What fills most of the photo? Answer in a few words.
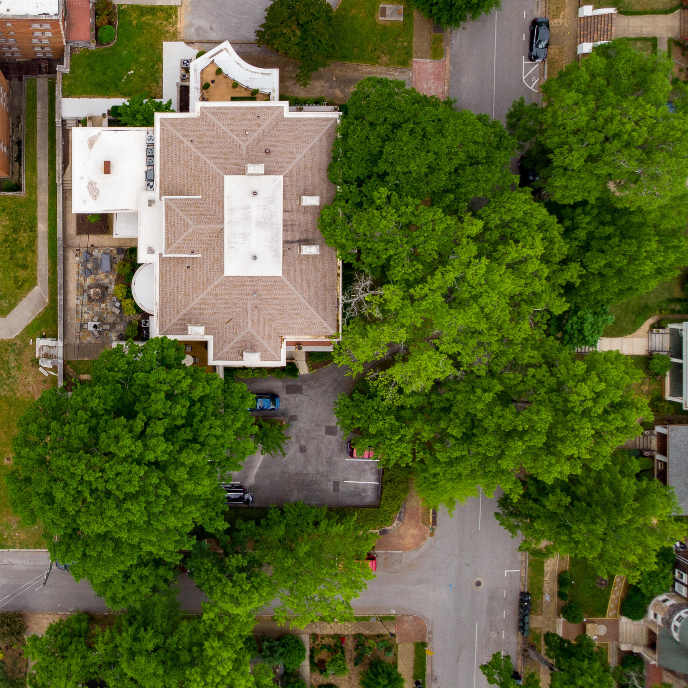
trees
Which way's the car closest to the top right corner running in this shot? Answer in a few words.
vertically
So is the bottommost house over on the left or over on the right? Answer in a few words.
right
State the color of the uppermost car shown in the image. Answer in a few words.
black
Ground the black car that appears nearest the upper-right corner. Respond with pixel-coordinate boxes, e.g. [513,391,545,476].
[527,17,549,62]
